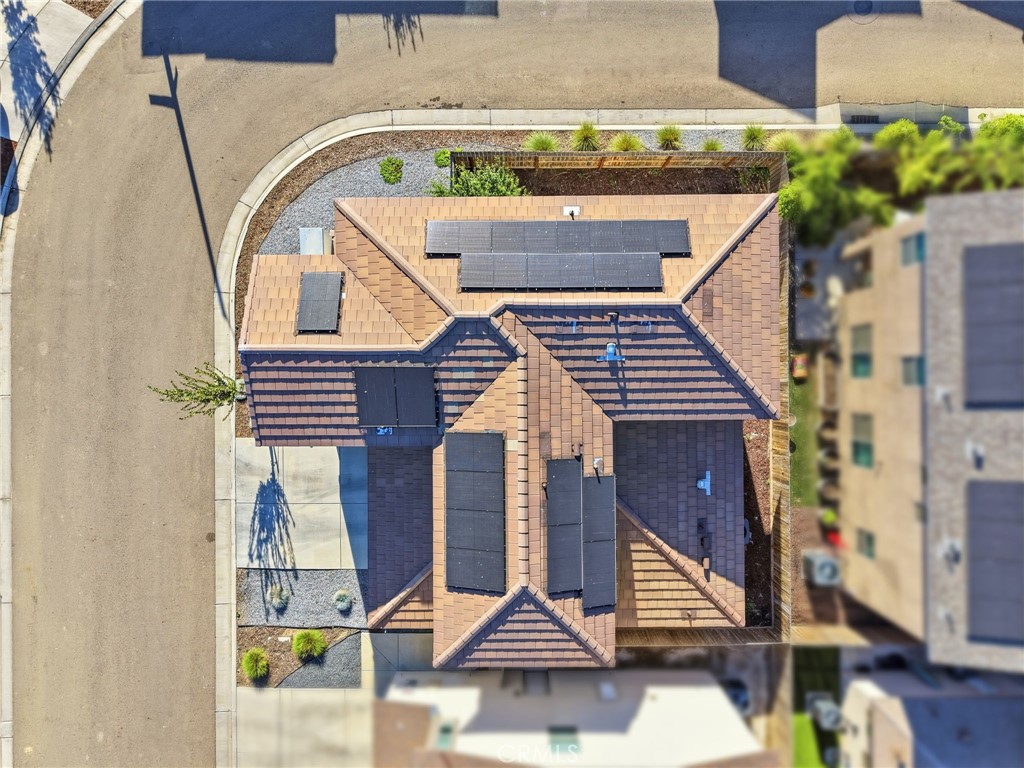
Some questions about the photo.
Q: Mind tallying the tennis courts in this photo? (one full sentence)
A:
The picture shows no tennis courts.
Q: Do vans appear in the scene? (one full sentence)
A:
No, the photo shows no van.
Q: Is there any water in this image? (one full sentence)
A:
No, there's no water in this view.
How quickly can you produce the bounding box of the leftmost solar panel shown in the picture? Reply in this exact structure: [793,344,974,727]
[295,273,344,331]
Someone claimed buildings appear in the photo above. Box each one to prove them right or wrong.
[812,189,1024,673]
[371,673,768,768]
[239,193,782,671]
